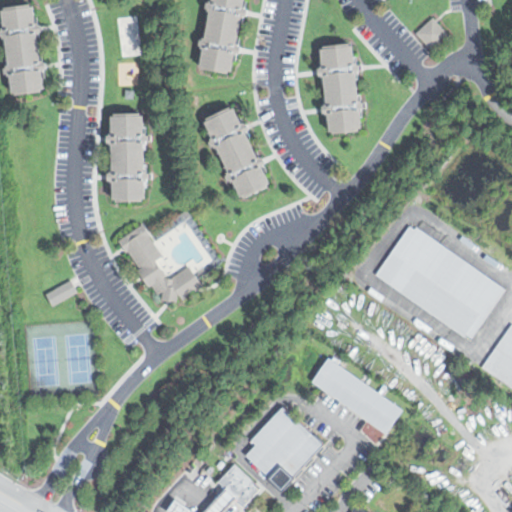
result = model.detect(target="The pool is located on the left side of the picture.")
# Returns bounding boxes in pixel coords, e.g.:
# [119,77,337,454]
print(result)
[154,222,213,278]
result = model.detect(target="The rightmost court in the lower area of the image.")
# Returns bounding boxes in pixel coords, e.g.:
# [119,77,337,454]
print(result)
[66,334,92,384]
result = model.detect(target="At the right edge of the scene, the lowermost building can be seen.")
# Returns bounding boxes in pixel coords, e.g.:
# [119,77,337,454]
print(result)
[482,323,512,388]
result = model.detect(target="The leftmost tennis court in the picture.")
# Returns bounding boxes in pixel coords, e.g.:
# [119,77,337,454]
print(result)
[33,337,59,386]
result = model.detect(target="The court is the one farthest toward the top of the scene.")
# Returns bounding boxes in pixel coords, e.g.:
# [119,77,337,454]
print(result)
[118,16,141,58]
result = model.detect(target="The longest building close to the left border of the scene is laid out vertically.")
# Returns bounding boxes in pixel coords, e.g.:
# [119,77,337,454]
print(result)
[0,6,47,94]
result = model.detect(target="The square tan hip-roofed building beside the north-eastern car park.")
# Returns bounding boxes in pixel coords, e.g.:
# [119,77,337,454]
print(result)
[416,18,444,46]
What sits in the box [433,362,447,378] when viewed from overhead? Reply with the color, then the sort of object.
white boat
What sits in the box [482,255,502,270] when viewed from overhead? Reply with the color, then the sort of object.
white vehicle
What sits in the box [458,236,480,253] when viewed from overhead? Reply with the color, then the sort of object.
white vehicle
